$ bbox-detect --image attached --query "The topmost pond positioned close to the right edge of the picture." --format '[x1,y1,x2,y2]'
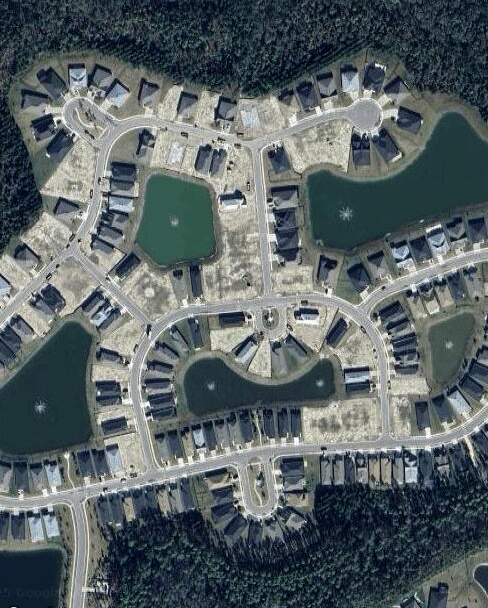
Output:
[308,113,488,248]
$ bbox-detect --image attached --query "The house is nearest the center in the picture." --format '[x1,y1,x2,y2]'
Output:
[220,312,244,327]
